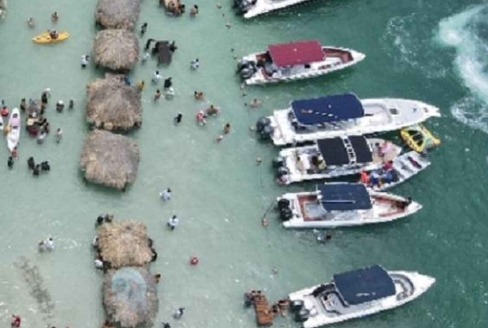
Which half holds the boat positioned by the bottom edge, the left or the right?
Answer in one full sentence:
The boat positioned by the bottom edge is on the right side of the image.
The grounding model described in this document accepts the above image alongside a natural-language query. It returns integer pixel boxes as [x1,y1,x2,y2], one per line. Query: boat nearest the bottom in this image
[284,267,437,328]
